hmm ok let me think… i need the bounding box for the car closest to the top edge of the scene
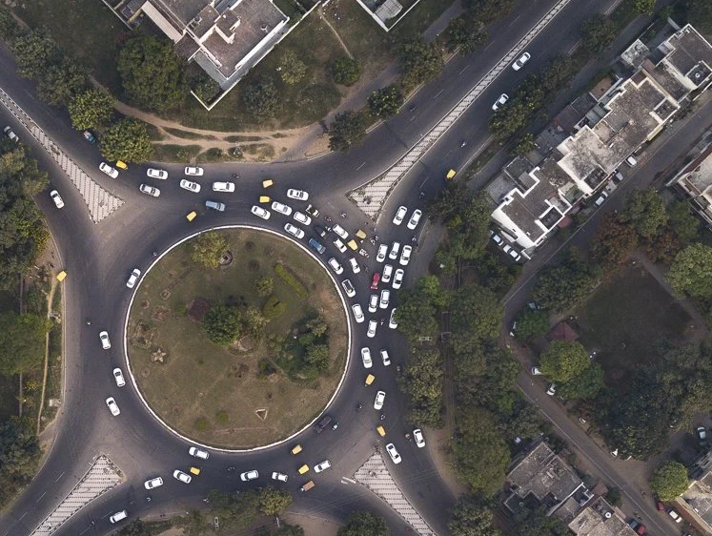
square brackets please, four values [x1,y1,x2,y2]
[512,52,531,72]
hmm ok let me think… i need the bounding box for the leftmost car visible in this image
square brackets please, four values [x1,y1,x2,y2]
[3,125,21,145]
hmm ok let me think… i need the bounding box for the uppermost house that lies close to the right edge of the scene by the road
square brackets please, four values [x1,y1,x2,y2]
[615,25,712,98]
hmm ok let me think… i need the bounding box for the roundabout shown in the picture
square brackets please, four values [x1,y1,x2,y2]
[124,224,353,454]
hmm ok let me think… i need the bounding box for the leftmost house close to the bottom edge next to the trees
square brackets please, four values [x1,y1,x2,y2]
[503,440,594,521]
